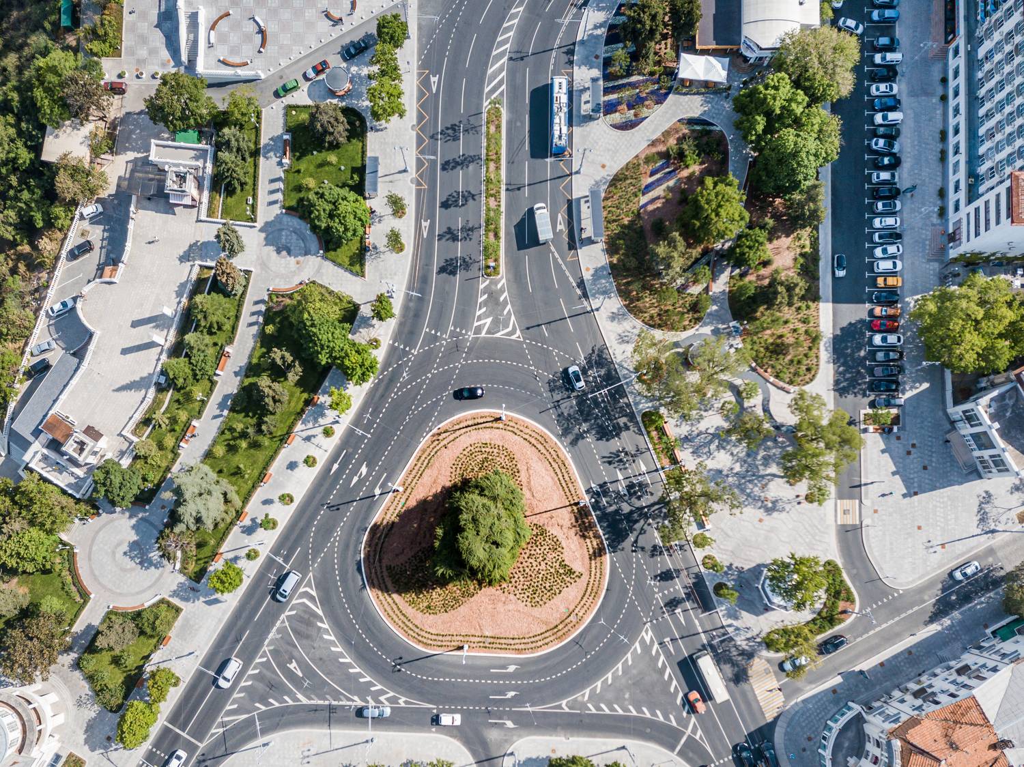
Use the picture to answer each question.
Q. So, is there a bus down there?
Yes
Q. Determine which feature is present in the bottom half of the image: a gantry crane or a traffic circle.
traffic circle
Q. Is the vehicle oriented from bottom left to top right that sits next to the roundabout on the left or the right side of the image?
left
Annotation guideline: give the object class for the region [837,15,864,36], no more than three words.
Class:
car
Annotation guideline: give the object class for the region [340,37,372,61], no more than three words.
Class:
vehicle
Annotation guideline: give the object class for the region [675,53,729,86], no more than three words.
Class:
tent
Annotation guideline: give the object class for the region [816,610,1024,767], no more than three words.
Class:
building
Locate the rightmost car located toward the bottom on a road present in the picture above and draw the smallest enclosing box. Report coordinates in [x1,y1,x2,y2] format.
[952,561,982,581]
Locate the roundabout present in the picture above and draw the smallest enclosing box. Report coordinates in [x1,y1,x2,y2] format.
[315,343,648,707]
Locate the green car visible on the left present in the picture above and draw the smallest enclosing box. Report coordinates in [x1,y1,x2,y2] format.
[276,78,302,97]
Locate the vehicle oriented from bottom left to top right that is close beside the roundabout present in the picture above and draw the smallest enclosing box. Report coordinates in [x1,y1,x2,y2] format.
[274,569,301,602]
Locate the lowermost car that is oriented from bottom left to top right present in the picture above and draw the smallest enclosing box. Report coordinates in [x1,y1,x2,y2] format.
[165,743,187,767]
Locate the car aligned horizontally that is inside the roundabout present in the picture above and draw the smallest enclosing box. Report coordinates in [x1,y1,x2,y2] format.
[455,387,484,400]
